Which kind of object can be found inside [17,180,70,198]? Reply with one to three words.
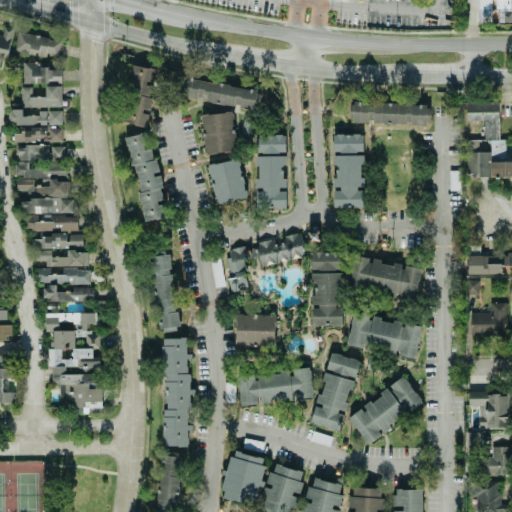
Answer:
house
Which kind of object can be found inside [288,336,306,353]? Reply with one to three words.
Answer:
swimming pool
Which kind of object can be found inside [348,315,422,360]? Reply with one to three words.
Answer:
building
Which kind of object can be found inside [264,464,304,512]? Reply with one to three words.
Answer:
building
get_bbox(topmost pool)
[258,268,304,308]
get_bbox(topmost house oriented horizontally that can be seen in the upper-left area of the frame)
[17,33,62,58]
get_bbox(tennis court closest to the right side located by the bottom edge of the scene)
[12,462,44,512]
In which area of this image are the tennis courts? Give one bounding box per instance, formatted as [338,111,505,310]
[12,462,44,512]
[0,462,12,512]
